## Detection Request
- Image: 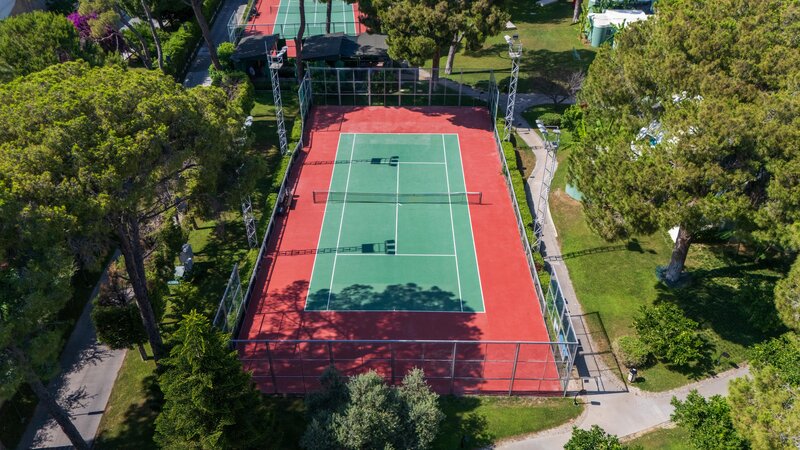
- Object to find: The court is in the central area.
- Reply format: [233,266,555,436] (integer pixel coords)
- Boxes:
[233,106,561,391]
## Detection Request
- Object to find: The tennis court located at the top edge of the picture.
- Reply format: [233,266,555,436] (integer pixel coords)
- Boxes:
[236,0,383,55]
